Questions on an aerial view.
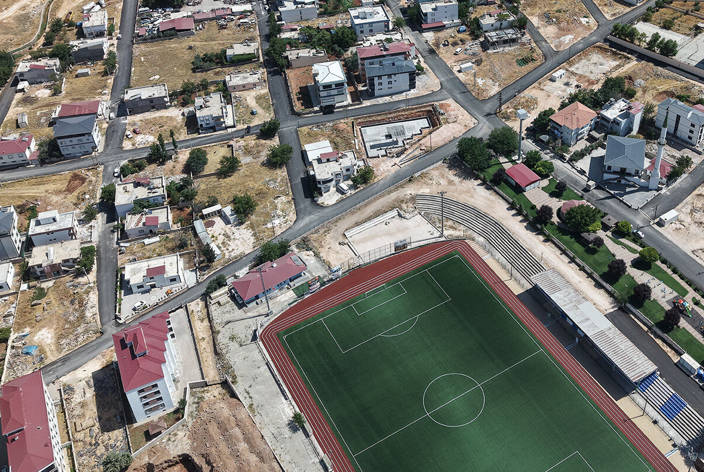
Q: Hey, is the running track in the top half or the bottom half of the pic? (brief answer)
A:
bottom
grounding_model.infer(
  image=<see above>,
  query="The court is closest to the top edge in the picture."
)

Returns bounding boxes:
[635,21,689,45]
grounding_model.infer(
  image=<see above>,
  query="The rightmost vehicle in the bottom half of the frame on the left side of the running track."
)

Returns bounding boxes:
[232,295,245,310]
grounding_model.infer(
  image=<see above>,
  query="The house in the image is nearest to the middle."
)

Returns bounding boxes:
[308,151,359,193]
